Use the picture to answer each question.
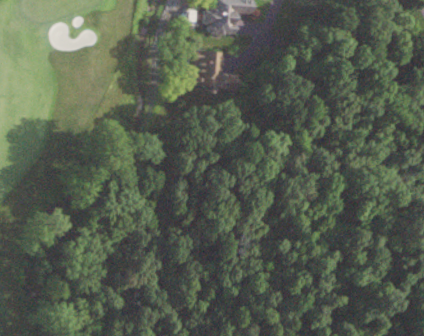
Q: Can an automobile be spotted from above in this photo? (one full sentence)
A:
No, there isn't any automobile down there.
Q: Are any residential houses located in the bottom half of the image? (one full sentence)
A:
No, there's no residential house to be seen in the bottom half of the image.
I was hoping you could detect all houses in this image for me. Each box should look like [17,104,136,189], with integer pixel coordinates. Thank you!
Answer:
[200,0,256,38]
[198,48,238,90]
